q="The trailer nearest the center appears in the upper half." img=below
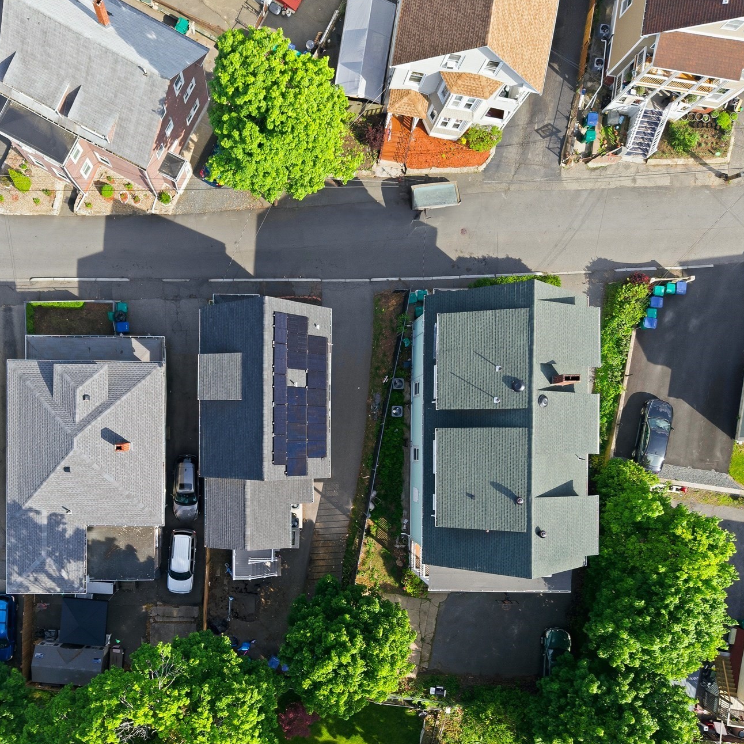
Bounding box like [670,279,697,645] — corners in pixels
[409,177,463,225]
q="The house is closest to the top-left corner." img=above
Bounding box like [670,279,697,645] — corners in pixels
[0,0,215,196]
